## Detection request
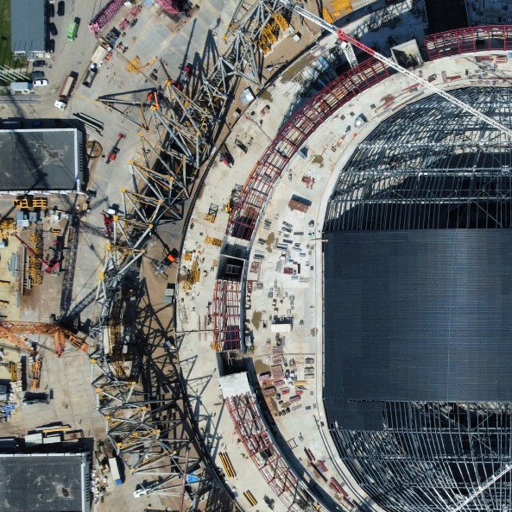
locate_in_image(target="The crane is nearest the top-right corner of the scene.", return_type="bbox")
[274,0,512,137]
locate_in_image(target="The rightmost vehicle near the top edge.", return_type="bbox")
[99,25,119,46]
